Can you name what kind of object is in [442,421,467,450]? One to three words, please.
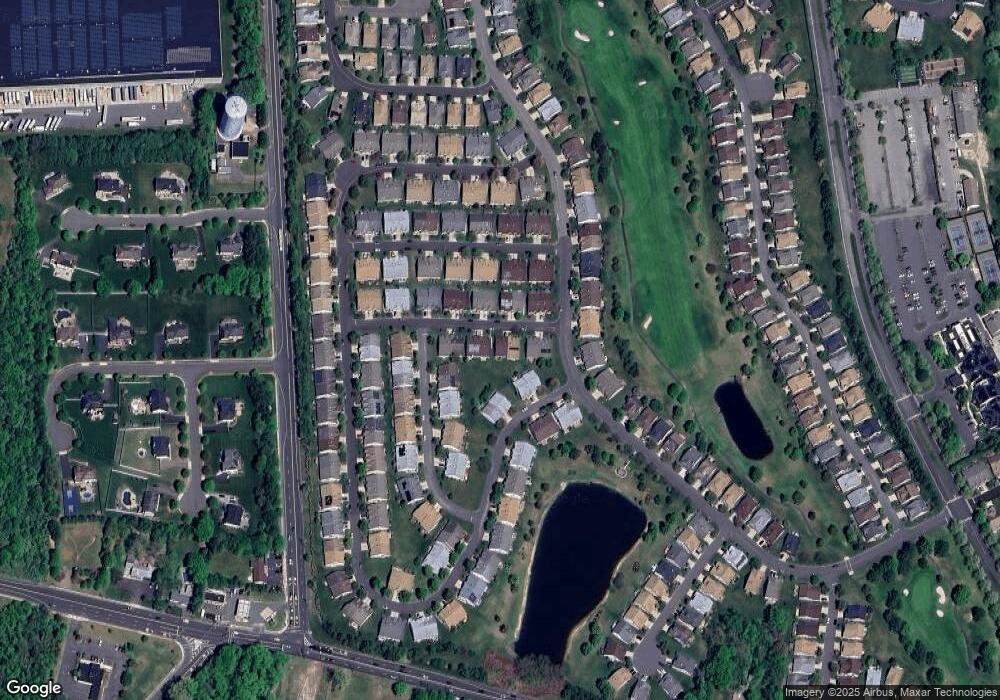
house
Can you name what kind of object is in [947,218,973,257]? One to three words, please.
tennis court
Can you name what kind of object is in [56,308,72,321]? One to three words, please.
swimming pool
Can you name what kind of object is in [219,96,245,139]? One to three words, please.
water tower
